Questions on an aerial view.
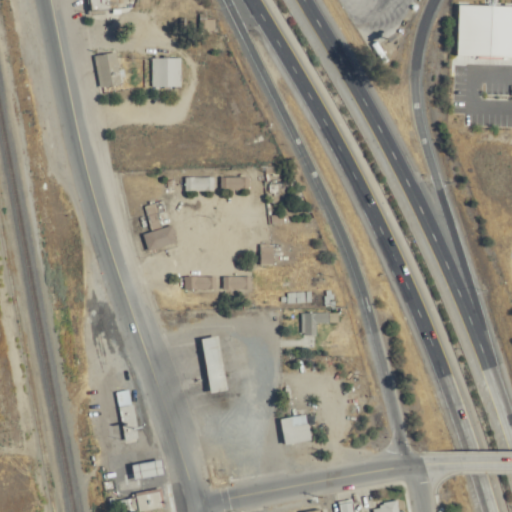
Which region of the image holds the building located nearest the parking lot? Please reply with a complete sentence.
The building located nearest the parking lot is in the top right part of the image.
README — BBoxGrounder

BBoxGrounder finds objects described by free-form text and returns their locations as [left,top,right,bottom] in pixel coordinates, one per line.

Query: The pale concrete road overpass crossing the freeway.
[424,450,512,474]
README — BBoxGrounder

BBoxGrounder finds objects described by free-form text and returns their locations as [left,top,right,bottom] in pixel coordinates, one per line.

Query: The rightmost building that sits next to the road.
[458,4,512,56]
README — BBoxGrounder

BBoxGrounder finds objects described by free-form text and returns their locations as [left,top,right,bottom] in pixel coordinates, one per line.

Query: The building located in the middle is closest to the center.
[260,244,274,266]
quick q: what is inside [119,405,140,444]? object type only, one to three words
building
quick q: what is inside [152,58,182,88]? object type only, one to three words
barn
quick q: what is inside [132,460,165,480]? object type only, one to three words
building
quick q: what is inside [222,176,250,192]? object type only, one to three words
house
